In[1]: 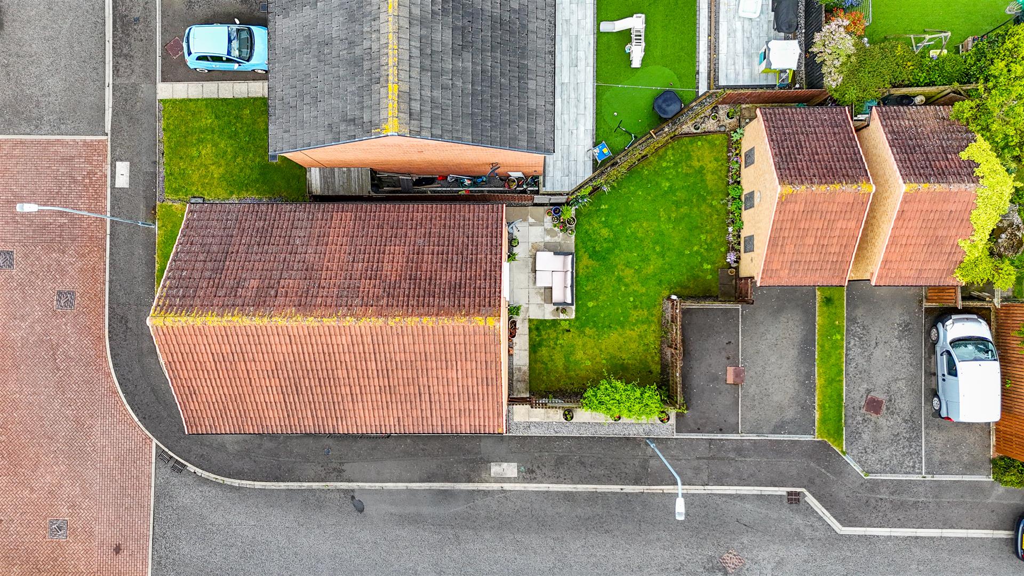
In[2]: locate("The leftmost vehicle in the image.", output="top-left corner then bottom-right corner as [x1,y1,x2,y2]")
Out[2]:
[180,19,266,78]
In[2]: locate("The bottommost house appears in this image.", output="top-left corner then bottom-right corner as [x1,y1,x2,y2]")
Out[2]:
[146,196,510,436]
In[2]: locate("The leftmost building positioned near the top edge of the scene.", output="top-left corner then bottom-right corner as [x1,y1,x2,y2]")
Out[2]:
[266,0,558,175]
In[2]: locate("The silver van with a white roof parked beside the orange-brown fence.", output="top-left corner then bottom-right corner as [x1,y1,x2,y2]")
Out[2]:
[925,309,1001,424]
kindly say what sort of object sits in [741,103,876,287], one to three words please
building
